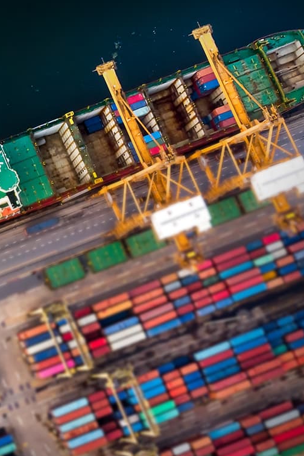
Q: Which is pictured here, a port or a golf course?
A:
port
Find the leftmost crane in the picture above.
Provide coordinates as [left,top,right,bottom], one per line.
[27,299,93,378]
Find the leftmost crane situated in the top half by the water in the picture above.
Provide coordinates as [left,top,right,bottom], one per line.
[92,60,216,269]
